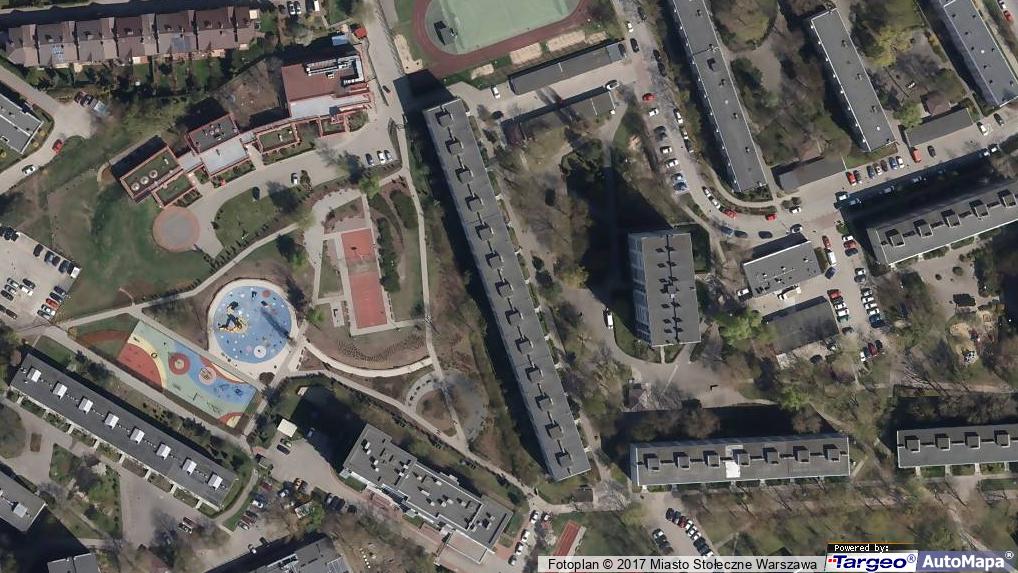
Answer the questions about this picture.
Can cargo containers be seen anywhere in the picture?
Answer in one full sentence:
No, the scene contains no cargo container.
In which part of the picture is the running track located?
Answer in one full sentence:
The running track sits in the top section of the image.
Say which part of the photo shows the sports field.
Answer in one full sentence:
The sports field appears toward the top of the photo.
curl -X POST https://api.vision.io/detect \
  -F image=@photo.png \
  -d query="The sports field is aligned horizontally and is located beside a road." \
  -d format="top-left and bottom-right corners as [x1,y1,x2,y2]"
[413,0,594,78]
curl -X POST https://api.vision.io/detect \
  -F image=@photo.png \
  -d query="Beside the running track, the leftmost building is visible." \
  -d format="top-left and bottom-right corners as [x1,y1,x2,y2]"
[121,55,372,208]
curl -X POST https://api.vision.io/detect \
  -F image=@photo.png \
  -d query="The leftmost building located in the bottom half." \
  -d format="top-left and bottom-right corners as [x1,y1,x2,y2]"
[0,467,48,530]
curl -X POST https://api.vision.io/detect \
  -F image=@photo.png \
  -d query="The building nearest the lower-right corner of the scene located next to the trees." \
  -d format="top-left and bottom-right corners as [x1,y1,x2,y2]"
[888,420,1018,472]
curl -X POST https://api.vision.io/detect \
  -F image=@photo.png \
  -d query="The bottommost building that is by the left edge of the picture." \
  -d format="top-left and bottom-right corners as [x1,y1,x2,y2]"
[48,544,100,573]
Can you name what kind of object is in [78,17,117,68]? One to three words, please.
house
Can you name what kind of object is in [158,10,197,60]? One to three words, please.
house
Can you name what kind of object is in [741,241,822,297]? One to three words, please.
building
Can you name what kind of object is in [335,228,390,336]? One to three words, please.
sports court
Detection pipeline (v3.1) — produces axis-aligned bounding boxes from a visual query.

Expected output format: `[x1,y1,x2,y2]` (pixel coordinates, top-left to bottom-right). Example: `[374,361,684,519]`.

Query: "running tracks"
[413,0,594,78]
